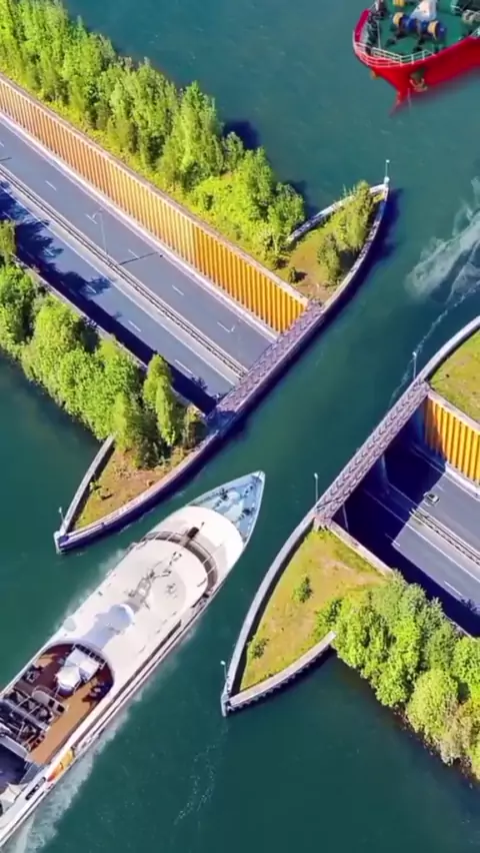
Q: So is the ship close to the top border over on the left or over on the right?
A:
right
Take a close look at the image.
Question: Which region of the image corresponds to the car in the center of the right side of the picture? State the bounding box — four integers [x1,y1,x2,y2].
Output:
[423,489,442,505]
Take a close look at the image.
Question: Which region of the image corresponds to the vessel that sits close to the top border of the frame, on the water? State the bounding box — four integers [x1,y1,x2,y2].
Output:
[348,0,480,93]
